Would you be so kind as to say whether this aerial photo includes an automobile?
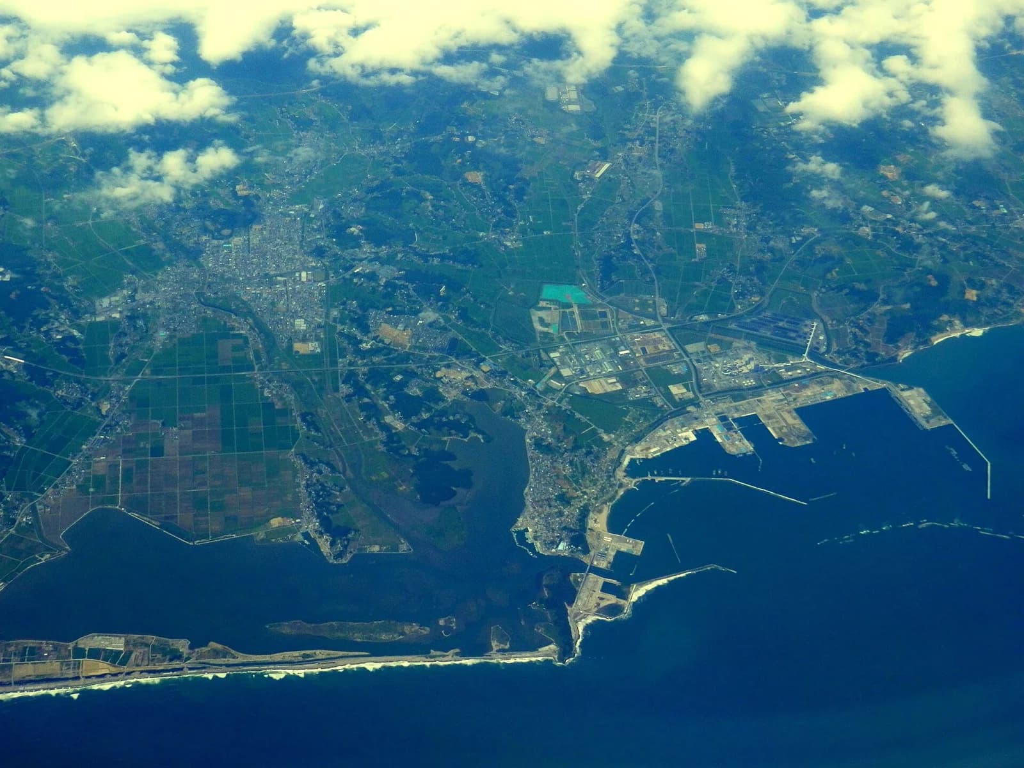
No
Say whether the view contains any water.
Yes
